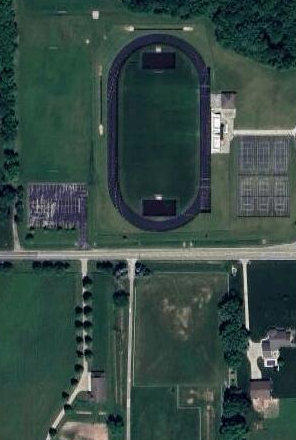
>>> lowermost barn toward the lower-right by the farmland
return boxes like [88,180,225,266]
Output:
[250,380,272,398]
